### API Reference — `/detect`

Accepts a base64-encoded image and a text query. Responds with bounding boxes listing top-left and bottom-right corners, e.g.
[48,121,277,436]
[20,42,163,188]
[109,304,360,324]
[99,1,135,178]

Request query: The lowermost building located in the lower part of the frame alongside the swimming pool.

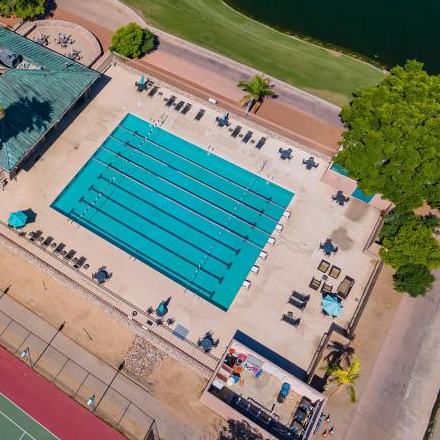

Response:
[201,341,327,440]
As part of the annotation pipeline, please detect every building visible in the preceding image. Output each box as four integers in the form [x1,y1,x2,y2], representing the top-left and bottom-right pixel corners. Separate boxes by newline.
[201,341,327,440]
[0,26,100,182]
